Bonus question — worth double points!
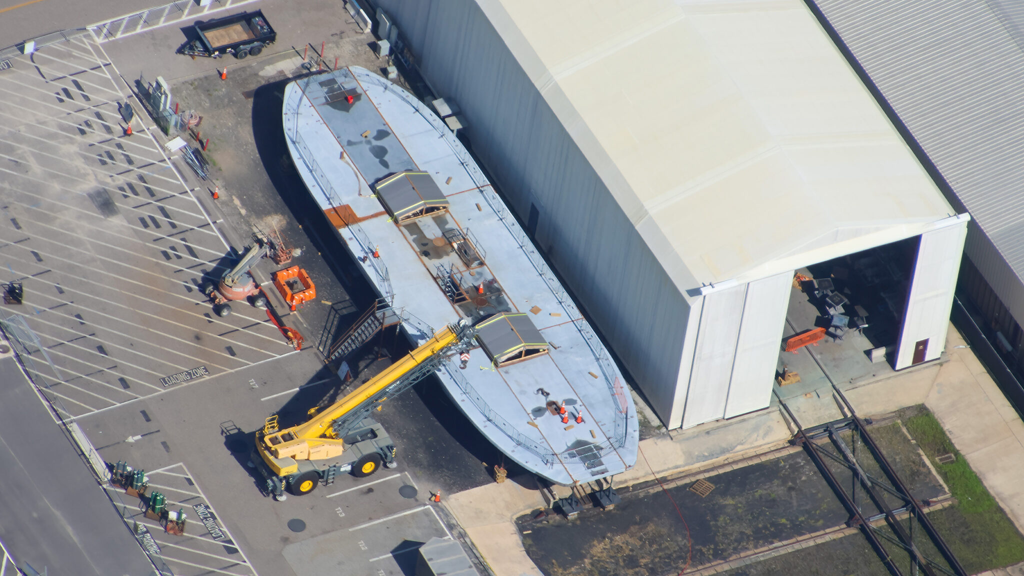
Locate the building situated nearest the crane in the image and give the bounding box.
[374,0,973,431]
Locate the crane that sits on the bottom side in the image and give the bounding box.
[253,311,478,503]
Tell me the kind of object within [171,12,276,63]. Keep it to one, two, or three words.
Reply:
trailer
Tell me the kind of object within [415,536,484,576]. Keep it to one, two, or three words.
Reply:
trailer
